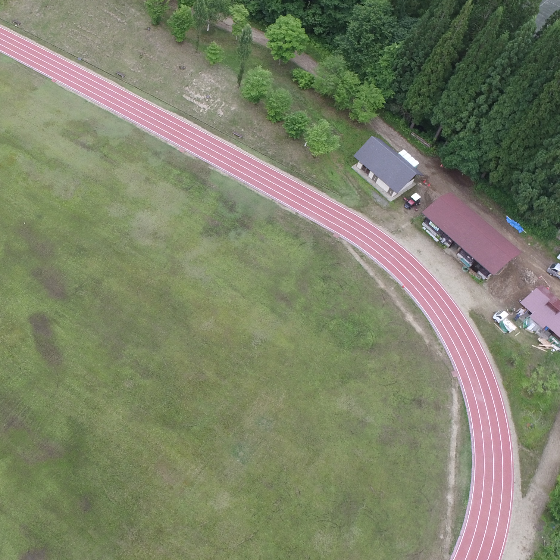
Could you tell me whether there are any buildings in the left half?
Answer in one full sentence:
No, no building appears in the left half.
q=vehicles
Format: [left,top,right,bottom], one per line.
[545,264,560,284]
[492,308,518,332]
[399,192,421,214]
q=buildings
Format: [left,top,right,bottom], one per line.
[419,194,522,280]
[508,286,560,362]
[351,138,424,204]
